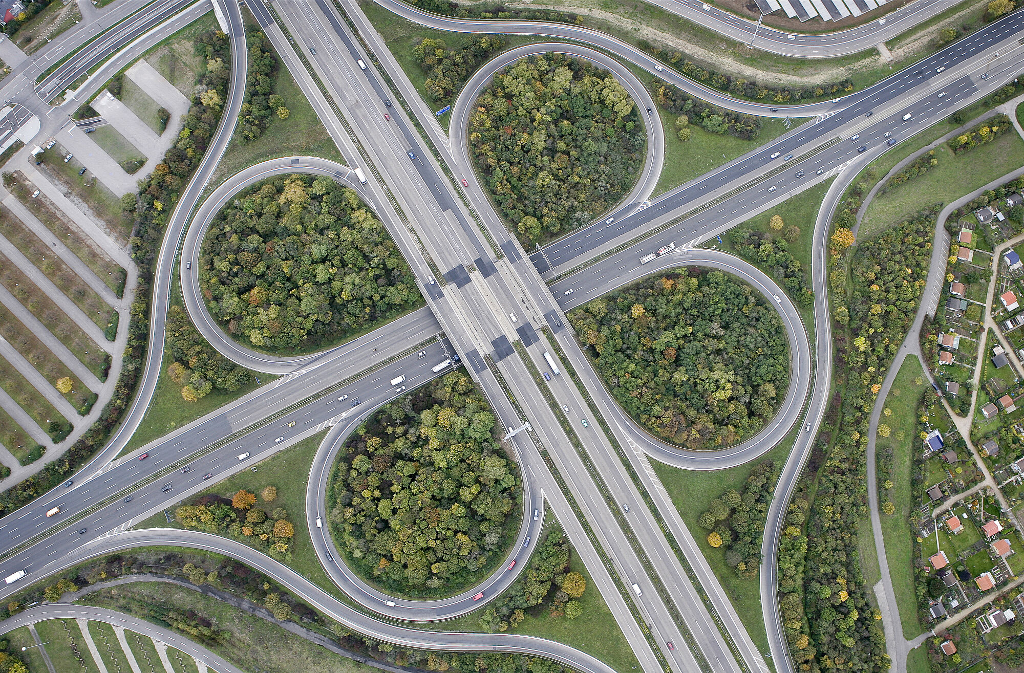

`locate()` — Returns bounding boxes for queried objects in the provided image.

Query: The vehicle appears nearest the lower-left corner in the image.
[4,569,29,584]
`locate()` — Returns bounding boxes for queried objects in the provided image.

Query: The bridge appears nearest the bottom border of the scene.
[415,229,579,389]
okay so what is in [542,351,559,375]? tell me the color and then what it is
white vehicle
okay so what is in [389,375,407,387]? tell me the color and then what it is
white vehicle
